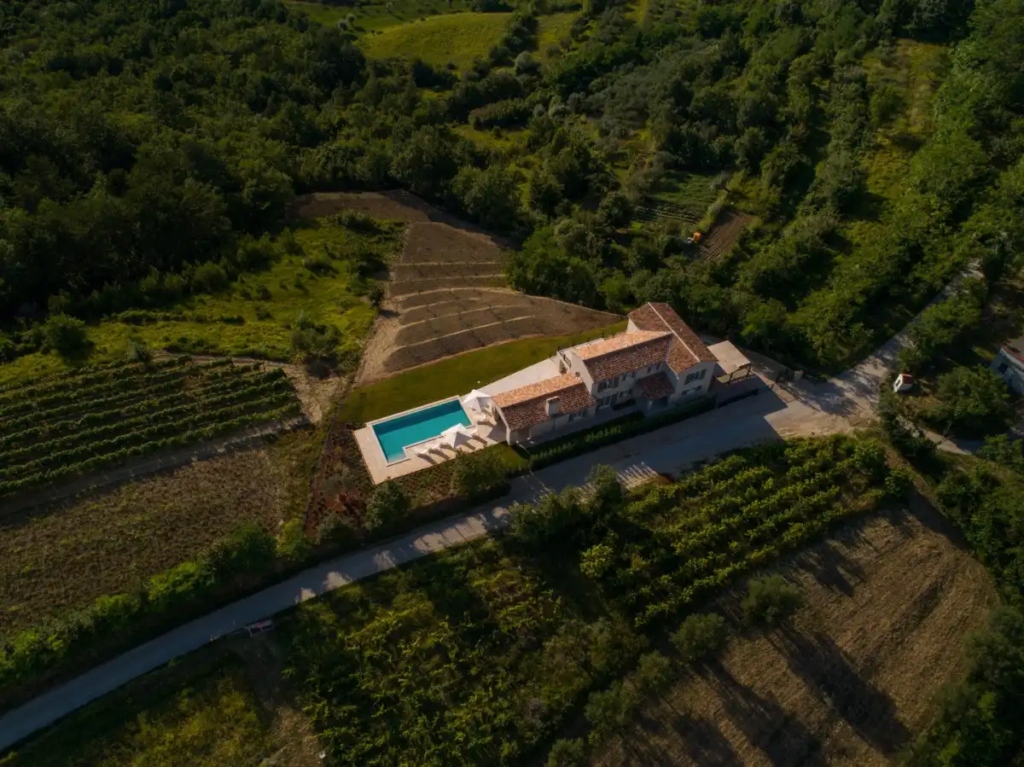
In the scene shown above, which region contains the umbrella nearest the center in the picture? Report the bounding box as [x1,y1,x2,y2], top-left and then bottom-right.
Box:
[460,382,492,409]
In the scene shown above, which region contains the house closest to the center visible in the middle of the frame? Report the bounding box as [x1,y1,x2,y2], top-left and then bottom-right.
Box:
[491,300,718,442]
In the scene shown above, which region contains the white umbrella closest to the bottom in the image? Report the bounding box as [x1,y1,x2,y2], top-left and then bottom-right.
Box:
[441,417,476,445]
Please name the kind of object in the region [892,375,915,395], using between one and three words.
building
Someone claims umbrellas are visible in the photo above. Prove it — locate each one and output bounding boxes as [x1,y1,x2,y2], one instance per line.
[460,382,492,409]
[441,417,476,445]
